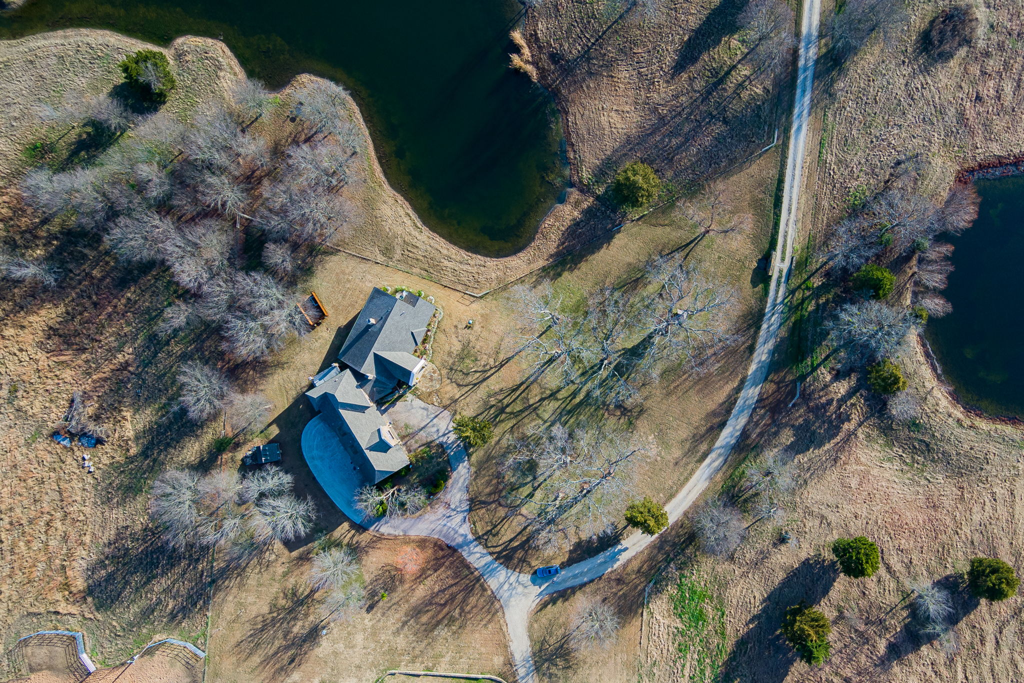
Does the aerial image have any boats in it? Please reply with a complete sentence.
No, there is no boat in the image.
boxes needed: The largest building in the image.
[304,287,436,489]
